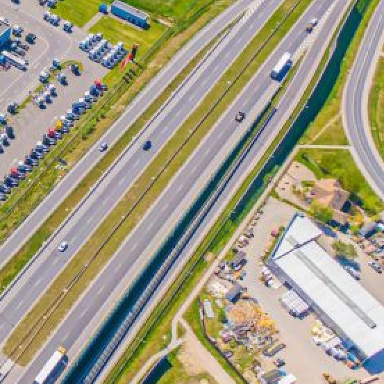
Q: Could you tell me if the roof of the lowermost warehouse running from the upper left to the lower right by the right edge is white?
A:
Yes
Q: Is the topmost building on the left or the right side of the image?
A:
left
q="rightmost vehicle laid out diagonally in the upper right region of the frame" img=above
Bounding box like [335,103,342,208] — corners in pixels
[307,15,320,30]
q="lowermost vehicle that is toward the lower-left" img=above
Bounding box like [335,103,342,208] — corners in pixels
[33,350,65,384]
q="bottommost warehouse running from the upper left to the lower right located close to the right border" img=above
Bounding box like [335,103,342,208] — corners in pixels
[267,239,384,365]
